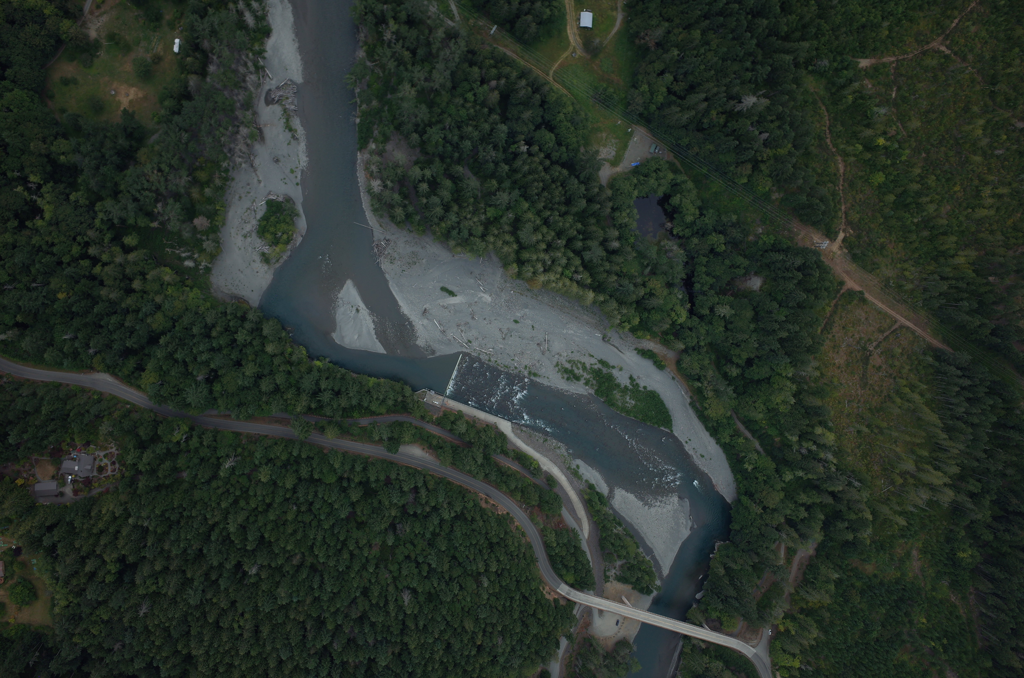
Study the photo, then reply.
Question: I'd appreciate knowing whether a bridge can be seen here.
Yes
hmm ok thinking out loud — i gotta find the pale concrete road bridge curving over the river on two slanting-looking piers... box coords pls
[556,582,756,660]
